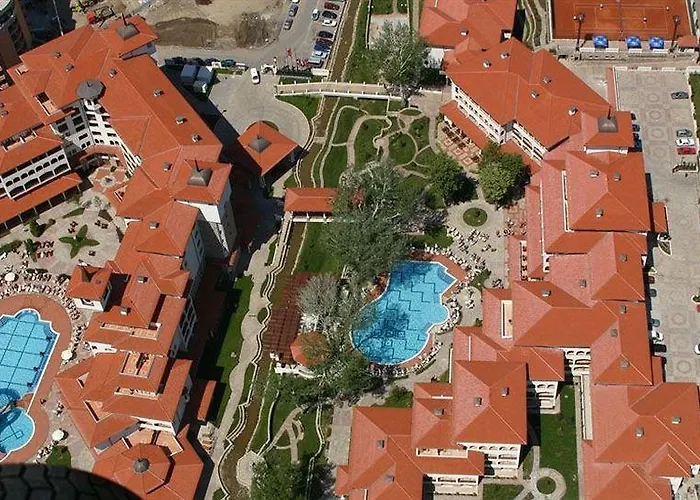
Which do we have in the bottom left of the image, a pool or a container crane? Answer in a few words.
pool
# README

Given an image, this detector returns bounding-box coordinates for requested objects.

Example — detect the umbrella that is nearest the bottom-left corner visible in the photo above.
[48,429,65,444]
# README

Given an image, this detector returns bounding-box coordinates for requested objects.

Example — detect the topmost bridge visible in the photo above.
[273,80,404,104]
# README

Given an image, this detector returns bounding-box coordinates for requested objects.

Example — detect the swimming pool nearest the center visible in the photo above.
[349,260,458,365]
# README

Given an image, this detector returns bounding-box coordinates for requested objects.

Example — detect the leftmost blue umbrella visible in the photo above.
[593,36,610,49]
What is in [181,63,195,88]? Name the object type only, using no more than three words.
vehicle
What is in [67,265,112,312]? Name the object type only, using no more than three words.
building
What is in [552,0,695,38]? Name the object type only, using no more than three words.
tennis court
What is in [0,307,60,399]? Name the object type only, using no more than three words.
swimming pool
